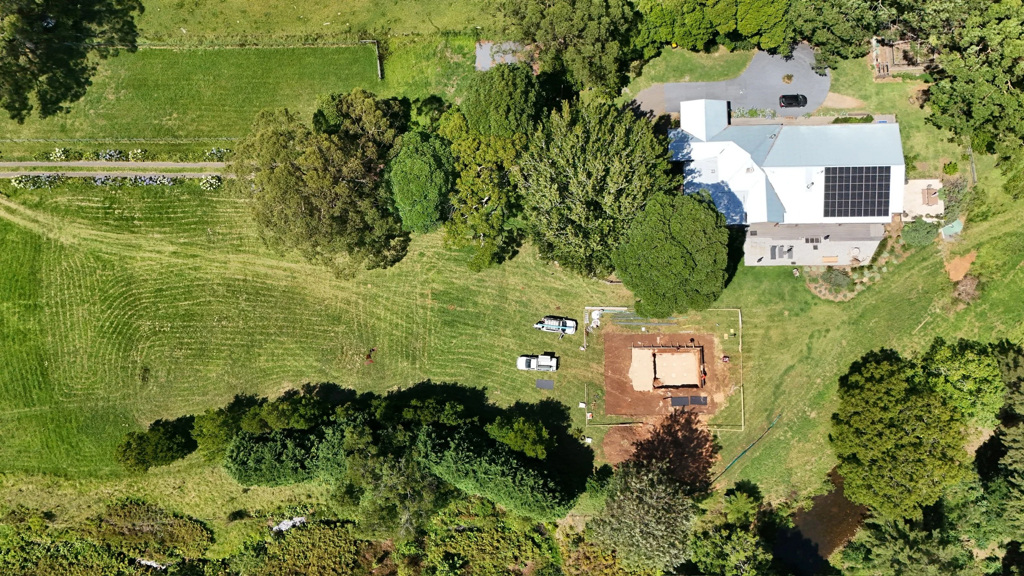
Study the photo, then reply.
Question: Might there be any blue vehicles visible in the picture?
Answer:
No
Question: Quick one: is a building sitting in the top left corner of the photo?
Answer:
No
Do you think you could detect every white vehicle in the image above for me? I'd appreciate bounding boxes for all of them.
[533,316,578,339]
[517,355,559,372]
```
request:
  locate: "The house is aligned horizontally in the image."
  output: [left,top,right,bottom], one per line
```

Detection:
[669,99,904,225]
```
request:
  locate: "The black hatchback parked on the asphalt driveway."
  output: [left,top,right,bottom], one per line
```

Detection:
[778,92,808,108]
